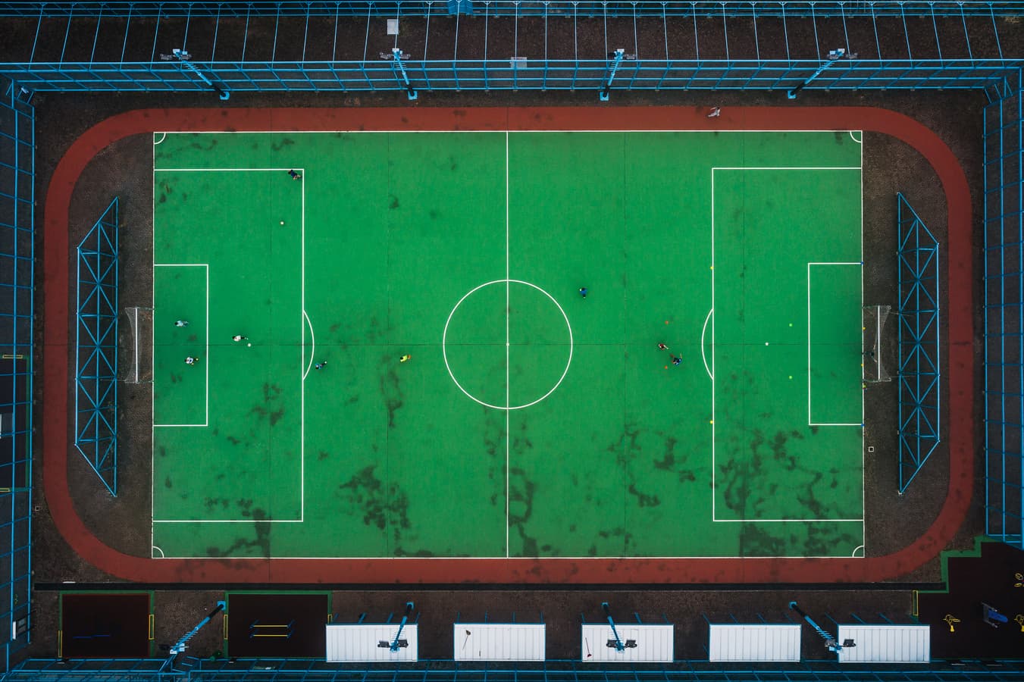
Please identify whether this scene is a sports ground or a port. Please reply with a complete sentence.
The picture captures a sports ground.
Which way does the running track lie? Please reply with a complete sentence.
Seen from above, the running track lies from side to side.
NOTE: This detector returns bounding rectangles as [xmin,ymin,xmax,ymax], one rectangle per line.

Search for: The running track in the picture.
[44,106,973,583]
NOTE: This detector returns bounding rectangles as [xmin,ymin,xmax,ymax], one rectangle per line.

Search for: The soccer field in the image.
[152,130,865,559]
